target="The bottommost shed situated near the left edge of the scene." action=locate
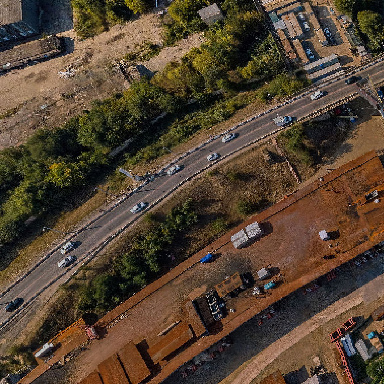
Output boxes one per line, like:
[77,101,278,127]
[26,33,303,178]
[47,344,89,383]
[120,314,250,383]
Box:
[0,34,65,78]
